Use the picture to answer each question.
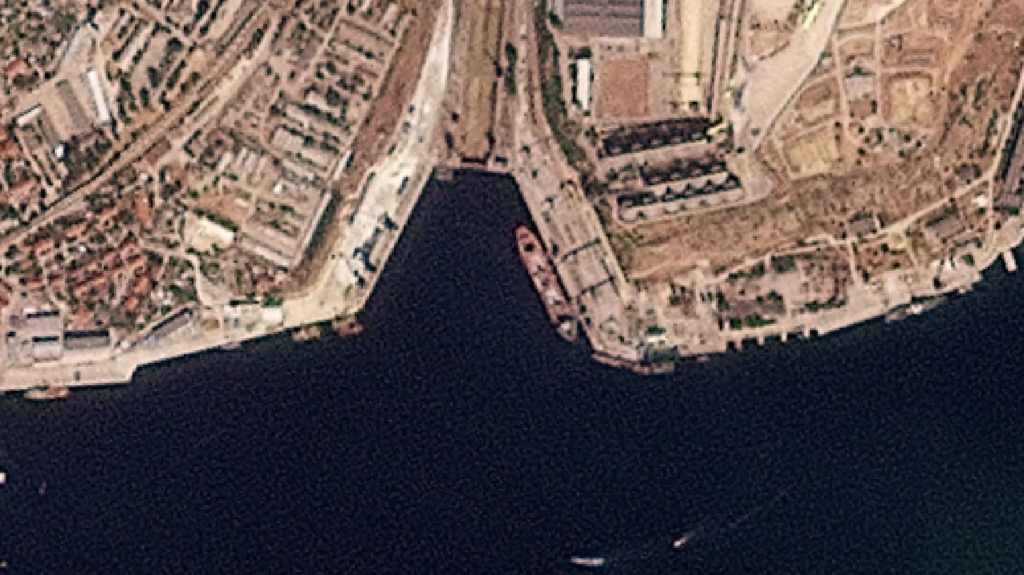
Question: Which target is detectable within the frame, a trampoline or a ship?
ship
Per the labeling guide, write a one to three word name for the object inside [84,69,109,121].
shed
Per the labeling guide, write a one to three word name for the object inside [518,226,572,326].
ship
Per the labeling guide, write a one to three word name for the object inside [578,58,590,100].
building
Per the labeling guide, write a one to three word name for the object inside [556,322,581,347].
boat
